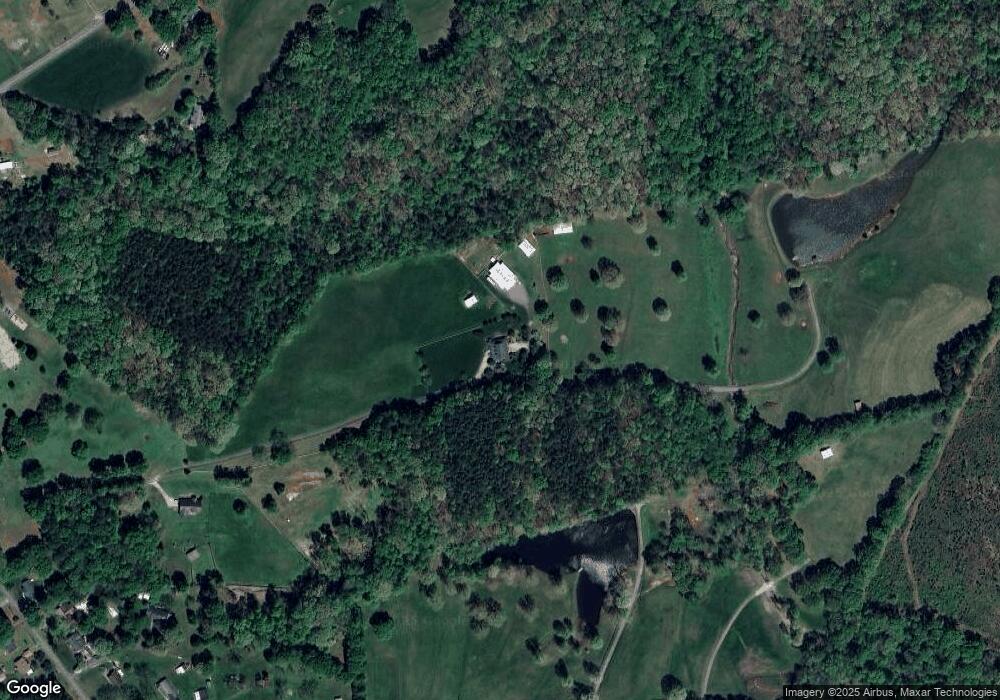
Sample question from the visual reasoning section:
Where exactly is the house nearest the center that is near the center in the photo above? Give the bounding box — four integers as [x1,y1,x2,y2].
[491,339,514,364]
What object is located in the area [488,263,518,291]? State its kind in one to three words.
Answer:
barn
